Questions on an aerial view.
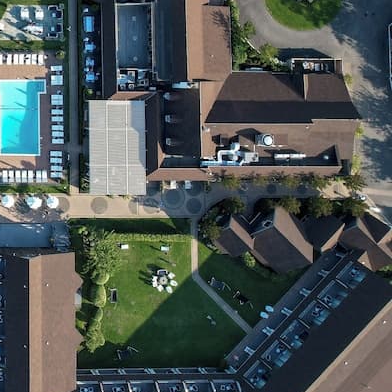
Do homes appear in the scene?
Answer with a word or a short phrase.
Yes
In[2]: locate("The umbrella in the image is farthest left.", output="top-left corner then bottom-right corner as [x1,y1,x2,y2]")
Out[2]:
[0,195,14,208]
